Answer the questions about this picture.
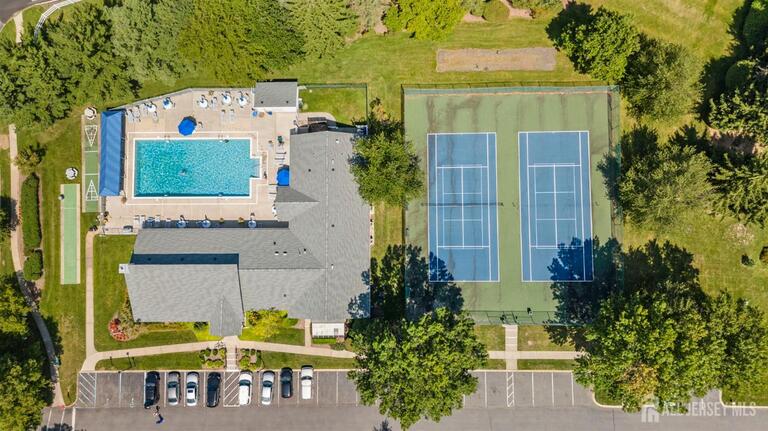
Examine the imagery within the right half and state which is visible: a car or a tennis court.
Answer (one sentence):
There is a tennis court within the right half.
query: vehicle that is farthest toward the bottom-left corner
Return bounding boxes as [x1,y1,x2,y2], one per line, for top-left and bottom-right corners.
[143,374,160,406]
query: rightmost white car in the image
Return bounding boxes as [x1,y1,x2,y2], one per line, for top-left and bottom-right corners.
[298,367,314,401]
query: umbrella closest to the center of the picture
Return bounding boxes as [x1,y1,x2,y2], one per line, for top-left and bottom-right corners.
[275,169,289,186]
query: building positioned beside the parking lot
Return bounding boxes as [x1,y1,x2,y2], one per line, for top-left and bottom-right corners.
[118,132,370,338]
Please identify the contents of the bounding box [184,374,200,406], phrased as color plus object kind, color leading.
white car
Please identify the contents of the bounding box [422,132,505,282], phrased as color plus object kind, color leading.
blue tennis court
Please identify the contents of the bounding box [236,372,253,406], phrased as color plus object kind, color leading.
white car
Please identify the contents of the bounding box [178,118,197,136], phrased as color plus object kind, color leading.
blue umbrella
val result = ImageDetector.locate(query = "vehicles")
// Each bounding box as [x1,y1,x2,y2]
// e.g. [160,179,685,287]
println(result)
[298,367,314,401]
[279,368,293,400]
[236,372,253,406]
[143,374,160,406]
[184,374,200,406]
[166,373,182,405]
[260,373,275,405]
[205,375,221,407]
